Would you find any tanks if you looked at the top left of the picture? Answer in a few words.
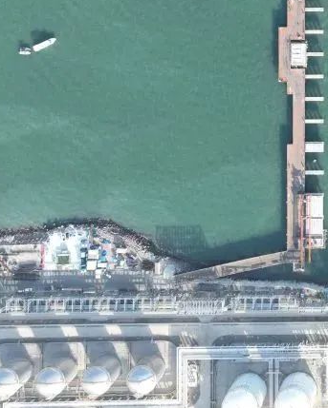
No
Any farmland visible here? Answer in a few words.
No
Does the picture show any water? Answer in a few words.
Yes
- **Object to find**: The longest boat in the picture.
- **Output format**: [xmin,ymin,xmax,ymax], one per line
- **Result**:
[32,37,57,51]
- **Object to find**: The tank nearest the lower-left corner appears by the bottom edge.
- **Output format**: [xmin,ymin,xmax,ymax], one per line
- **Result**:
[0,354,34,401]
